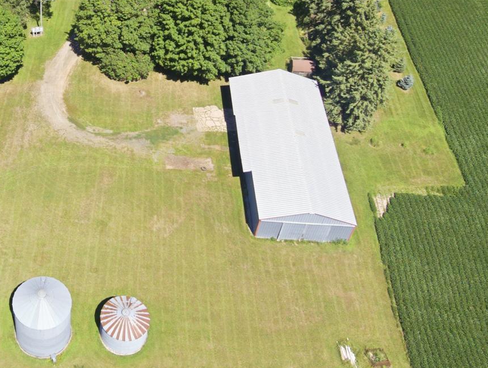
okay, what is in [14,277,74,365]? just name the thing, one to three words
silo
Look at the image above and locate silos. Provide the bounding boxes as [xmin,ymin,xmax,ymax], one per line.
[98,296,150,356]
[14,277,74,365]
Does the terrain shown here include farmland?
Yes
